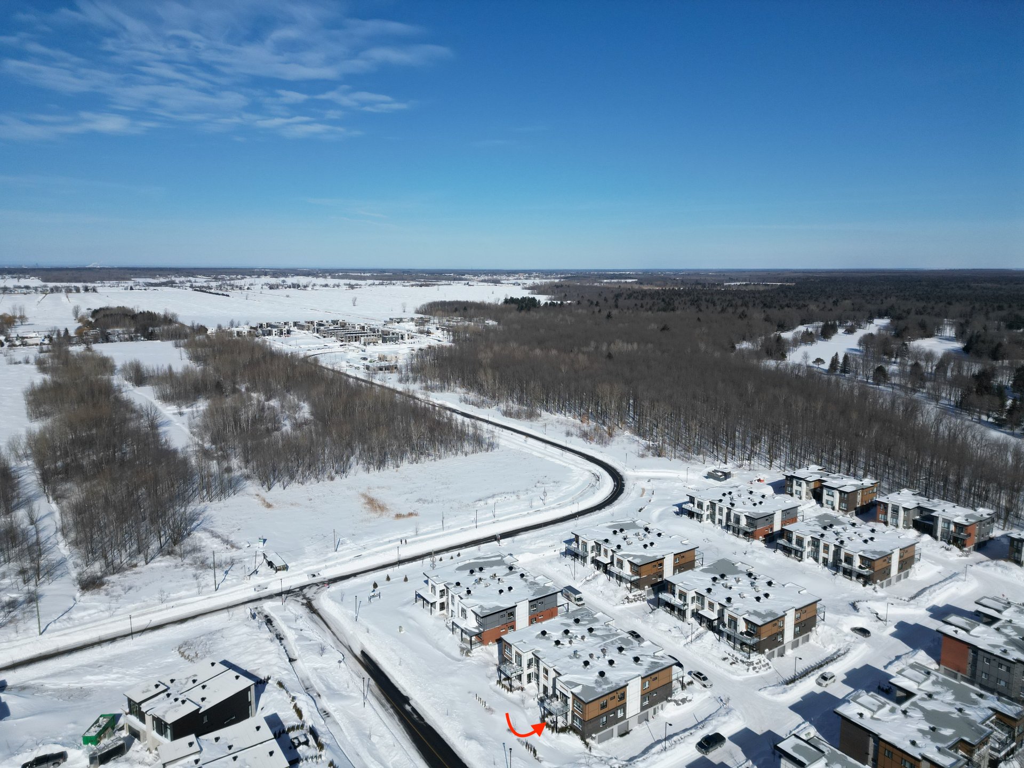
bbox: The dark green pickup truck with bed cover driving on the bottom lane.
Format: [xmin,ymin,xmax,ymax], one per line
[696,731,726,748]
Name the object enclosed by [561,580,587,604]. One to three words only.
truck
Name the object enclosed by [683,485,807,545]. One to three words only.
building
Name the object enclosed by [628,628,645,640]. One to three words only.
vehicle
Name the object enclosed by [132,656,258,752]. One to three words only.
house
